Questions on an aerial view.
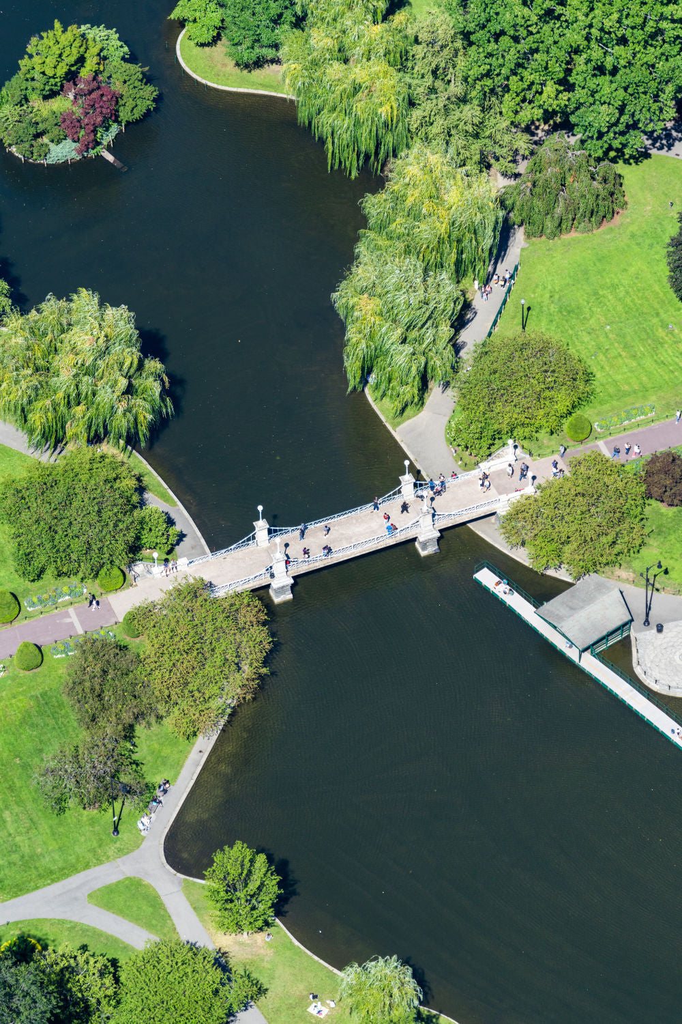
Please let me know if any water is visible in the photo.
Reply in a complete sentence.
Yes, there is water in the image.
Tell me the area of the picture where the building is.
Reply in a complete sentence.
The building sits in the right section of the image.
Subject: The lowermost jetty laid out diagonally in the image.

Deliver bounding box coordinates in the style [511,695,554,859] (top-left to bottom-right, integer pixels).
[472,560,682,753]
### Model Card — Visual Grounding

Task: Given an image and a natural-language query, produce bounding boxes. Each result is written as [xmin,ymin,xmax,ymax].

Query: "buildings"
[537,576,636,664]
